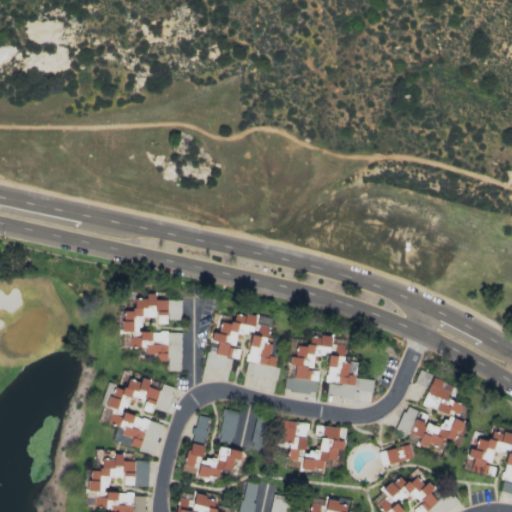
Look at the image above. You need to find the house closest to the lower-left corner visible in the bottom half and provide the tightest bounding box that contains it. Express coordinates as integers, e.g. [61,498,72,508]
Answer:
[86,451,150,512]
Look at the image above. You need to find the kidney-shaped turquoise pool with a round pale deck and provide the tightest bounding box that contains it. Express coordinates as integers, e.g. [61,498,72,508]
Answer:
[347,443,388,482]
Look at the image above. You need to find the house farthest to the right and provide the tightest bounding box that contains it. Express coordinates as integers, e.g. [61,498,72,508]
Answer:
[464,425,512,493]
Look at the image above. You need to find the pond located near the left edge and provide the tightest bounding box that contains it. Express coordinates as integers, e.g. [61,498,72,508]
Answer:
[0,352,81,512]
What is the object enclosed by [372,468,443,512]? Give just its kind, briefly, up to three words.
house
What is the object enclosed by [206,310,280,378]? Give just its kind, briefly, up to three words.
house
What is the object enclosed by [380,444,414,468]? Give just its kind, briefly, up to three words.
building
